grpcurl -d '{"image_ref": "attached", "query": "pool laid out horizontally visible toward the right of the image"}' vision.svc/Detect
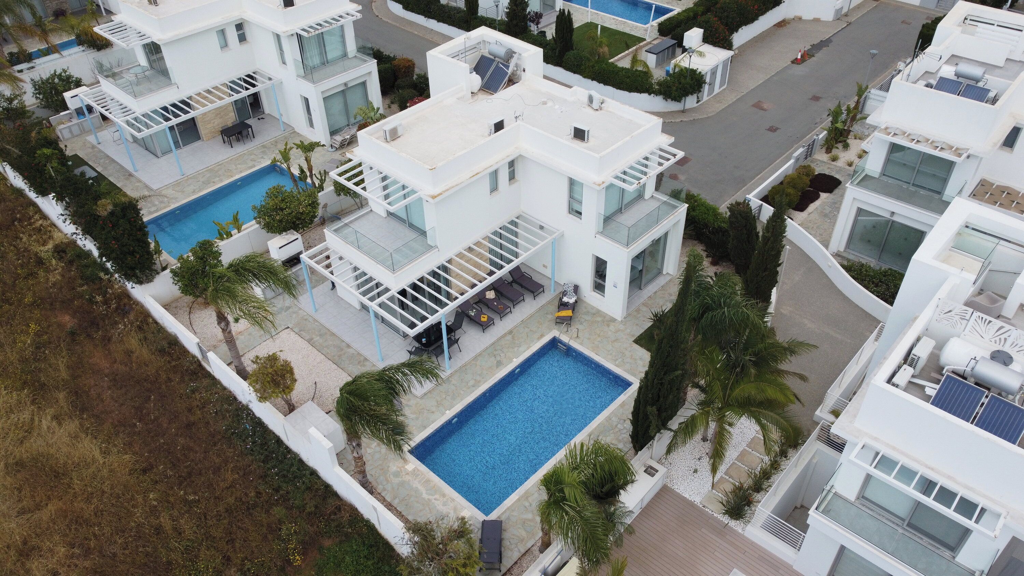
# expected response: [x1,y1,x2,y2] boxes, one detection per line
[571,0,675,27]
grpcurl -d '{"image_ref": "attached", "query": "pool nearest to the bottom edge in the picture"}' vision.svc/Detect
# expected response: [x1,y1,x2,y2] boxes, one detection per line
[398,319,638,525]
